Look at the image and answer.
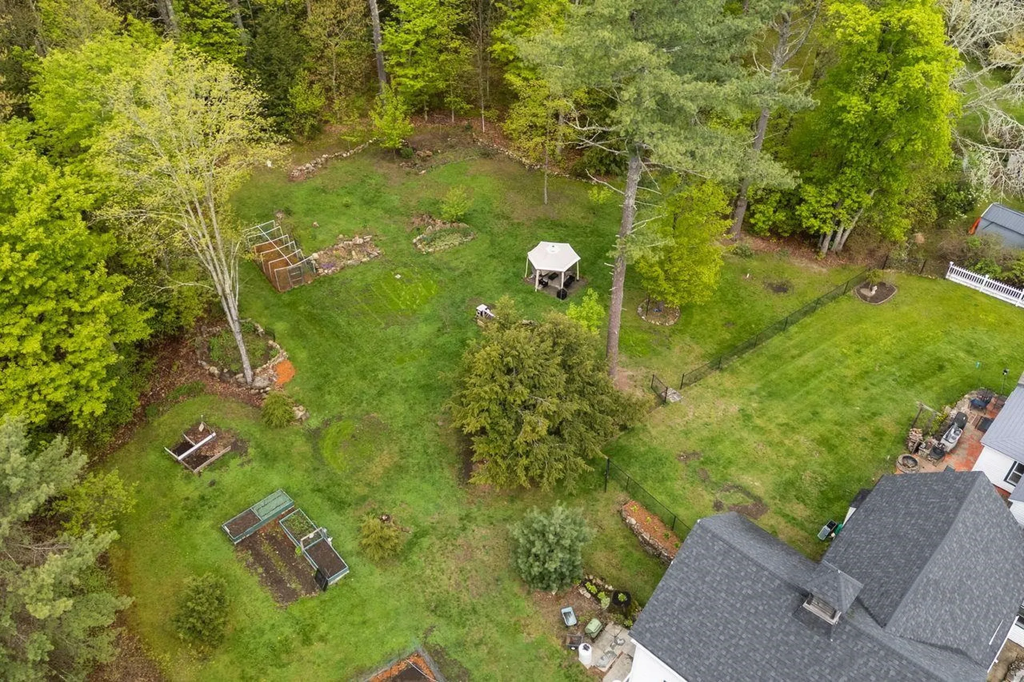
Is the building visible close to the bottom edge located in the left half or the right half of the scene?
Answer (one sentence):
You can find the building visible close to the bottom edge on the right side of the picture.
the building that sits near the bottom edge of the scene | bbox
[624,473,1024,682]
